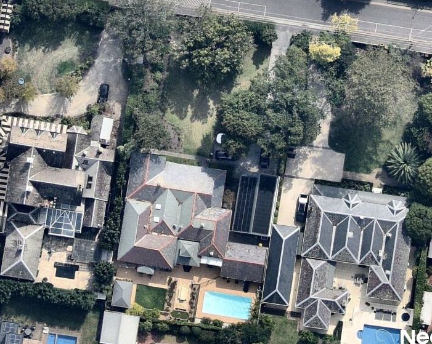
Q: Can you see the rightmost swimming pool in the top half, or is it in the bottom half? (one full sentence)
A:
You can find the rightmost swimming pool in the bottom half.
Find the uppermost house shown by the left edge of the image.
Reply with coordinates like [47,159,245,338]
[0,115,118,282]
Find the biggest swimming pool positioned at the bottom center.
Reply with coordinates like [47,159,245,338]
[200,291,254,321]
